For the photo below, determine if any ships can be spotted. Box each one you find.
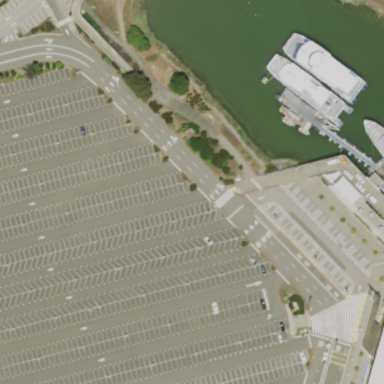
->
[364,119,384,158]
[283,32,366,102]
[266,54,354,130]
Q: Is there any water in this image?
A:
Yes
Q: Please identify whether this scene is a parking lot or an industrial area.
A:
parking lot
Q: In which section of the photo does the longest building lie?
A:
right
